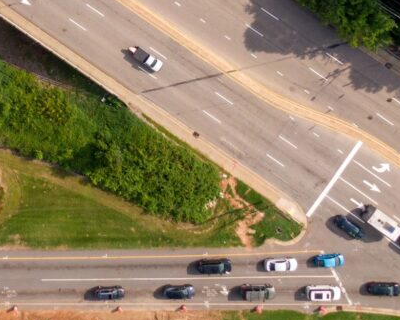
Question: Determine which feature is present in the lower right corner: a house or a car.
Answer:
car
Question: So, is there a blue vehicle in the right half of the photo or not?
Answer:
Yes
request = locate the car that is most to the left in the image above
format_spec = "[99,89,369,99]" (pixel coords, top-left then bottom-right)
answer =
[93,285,122,301]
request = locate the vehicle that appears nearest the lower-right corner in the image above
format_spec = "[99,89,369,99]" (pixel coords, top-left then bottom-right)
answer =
[367,281,400,298]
